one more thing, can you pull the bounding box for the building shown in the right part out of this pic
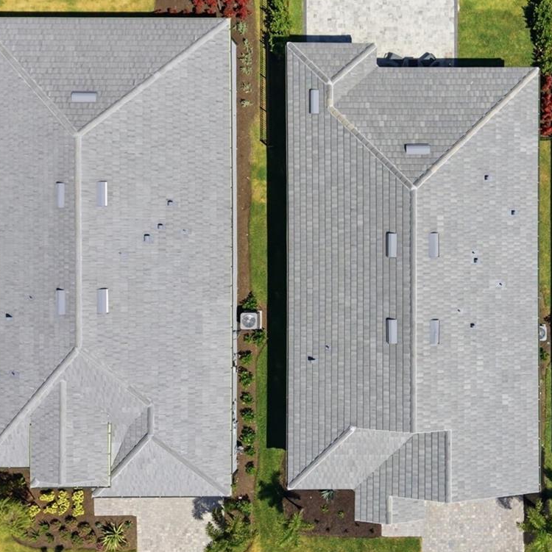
[284,40,542,527]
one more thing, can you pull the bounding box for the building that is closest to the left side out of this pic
[0,15,238,499]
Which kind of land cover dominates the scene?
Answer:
buildings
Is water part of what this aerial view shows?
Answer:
No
